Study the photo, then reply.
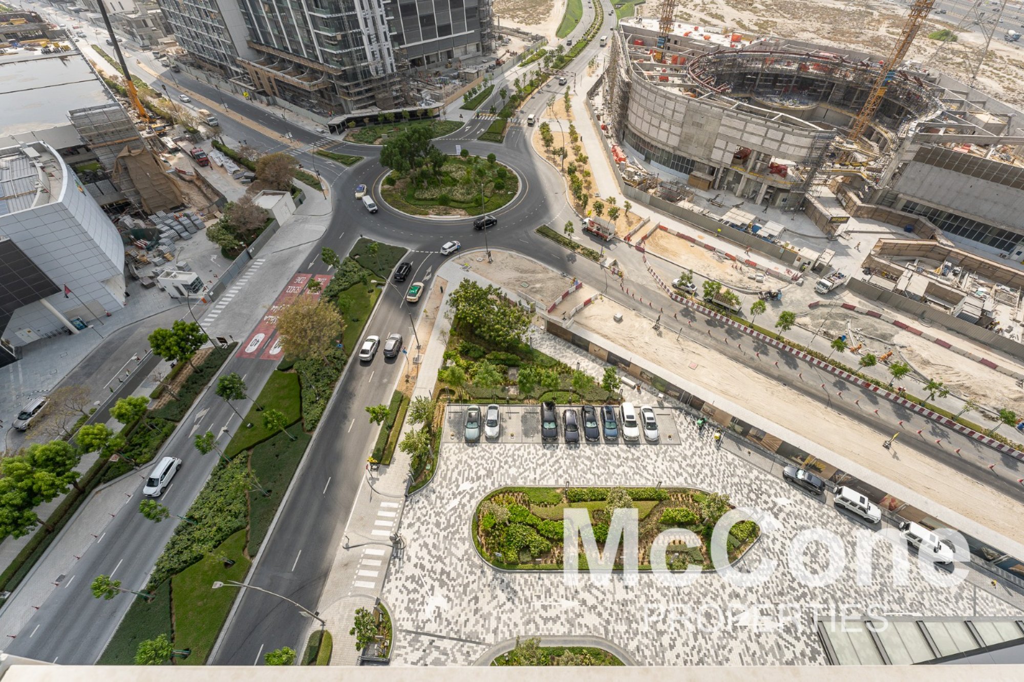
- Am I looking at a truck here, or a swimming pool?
truck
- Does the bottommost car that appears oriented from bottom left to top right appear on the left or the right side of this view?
left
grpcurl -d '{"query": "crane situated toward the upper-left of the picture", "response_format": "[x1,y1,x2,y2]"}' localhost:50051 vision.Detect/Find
[89,0,172,135]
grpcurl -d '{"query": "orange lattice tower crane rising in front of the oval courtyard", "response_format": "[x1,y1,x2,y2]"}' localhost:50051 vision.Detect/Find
[836,0,941,135]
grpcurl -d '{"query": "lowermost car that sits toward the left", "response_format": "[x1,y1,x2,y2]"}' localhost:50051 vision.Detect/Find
[141,457,185,500]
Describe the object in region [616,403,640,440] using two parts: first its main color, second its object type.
white car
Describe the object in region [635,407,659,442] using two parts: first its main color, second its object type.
white car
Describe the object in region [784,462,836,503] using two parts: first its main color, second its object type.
gray car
